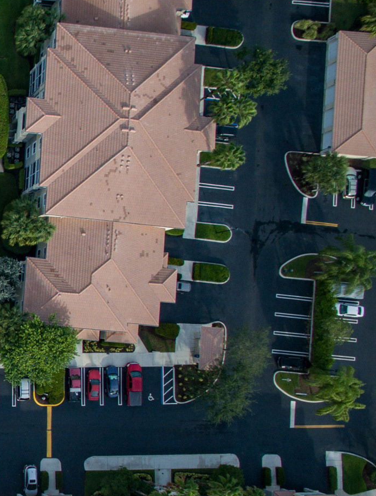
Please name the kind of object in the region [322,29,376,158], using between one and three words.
building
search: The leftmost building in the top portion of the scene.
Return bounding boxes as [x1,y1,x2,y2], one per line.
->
[8,0,216,345]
